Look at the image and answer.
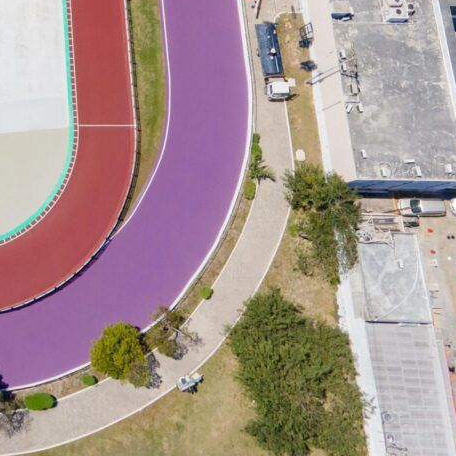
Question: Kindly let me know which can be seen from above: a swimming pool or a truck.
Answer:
truck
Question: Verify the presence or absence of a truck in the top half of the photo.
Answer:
Yes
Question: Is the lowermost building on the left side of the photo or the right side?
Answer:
right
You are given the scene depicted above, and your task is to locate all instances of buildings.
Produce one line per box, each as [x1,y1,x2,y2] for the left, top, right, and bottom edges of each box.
[342,232,456,456]
[308,0,456,195]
